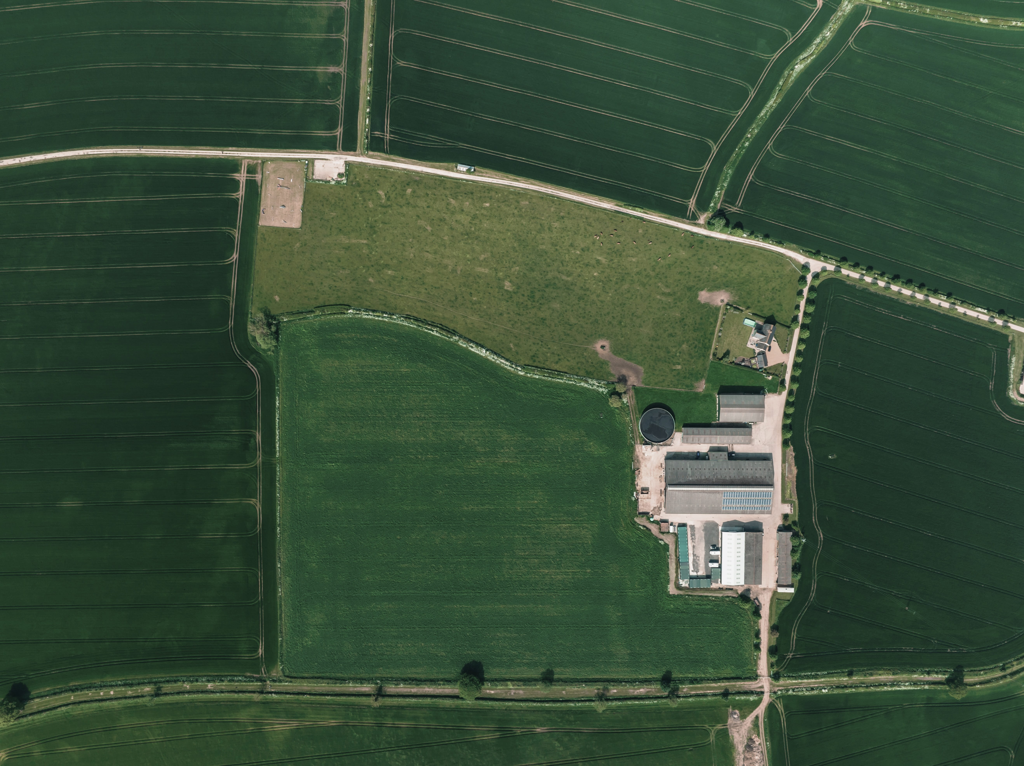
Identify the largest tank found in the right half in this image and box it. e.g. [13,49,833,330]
[639,408,675,445]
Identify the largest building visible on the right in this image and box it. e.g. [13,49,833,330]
[665,460,775,514]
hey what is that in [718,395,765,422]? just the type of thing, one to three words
barn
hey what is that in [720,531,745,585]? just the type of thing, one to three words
barn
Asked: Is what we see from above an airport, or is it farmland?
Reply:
farmland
